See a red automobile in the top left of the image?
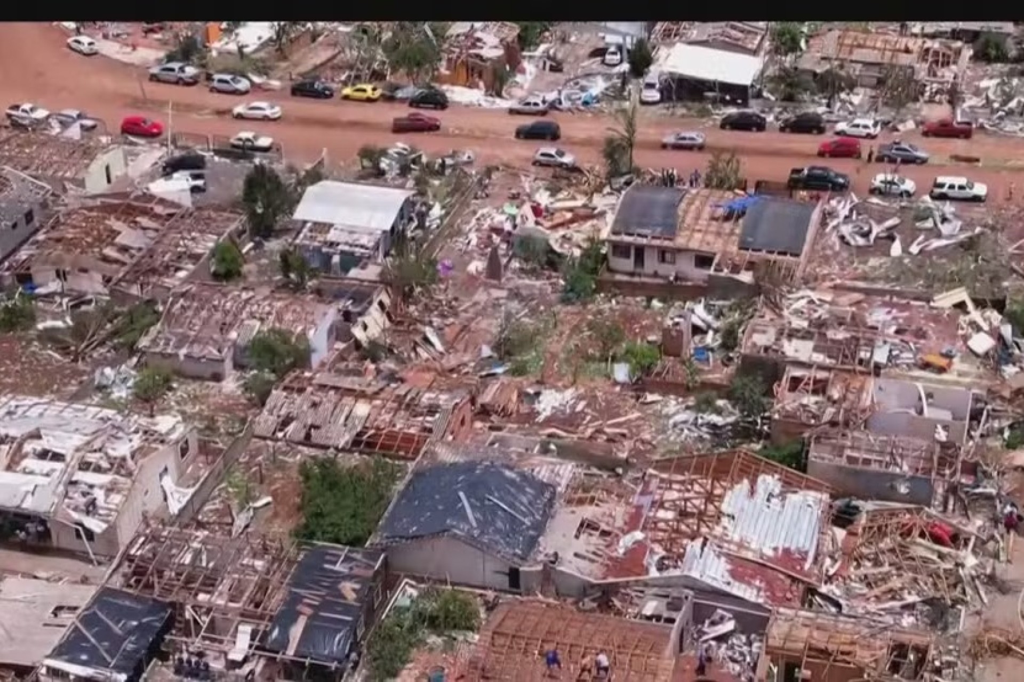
Yes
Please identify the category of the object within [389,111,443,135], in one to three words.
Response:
truck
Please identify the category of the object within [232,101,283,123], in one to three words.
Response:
car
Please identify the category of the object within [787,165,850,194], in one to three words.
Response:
truck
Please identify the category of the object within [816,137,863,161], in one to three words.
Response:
car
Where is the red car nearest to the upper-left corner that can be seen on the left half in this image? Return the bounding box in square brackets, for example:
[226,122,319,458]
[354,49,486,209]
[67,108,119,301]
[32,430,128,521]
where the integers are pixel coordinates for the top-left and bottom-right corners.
[118,115,165,140]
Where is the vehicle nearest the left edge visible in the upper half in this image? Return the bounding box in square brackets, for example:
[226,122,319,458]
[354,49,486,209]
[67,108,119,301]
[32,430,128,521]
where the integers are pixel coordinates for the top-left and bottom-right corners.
[2,104,53,129]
